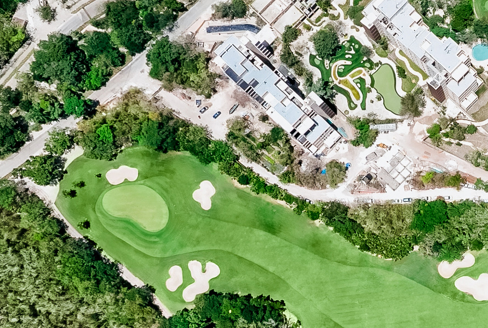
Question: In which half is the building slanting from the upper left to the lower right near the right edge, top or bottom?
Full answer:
You can find the building slanting from the upper left to the lower right near the right edge in the top half.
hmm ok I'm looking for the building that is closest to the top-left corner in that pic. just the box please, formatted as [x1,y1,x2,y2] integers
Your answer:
[11,3,36,27]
